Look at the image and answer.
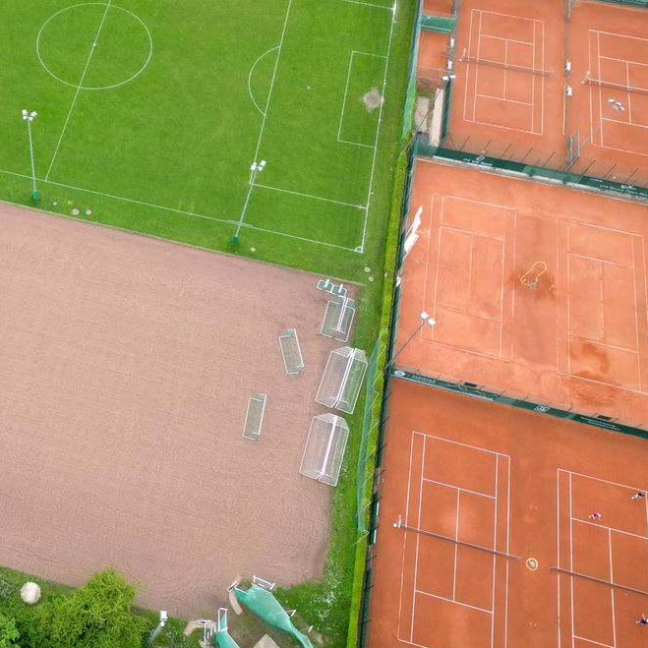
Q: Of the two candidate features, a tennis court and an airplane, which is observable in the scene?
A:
tennis court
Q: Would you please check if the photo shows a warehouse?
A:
No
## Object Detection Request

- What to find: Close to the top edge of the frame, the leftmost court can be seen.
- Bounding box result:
[412,0,459,106]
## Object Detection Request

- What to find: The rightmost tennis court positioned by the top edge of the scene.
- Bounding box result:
[565,0,648,188]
